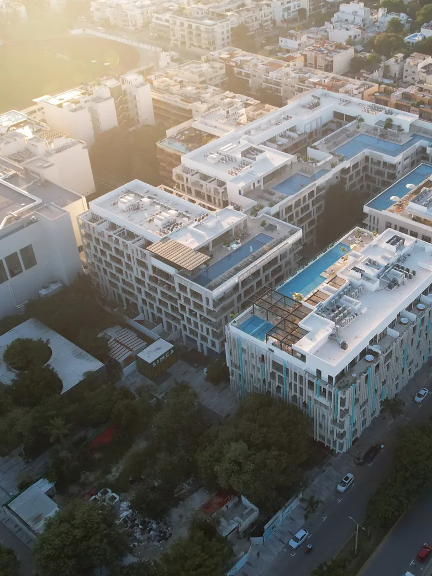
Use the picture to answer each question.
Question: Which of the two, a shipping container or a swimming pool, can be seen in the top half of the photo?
swimming pool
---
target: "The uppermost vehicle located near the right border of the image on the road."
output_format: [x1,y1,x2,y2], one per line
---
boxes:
[412,387,431,404]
